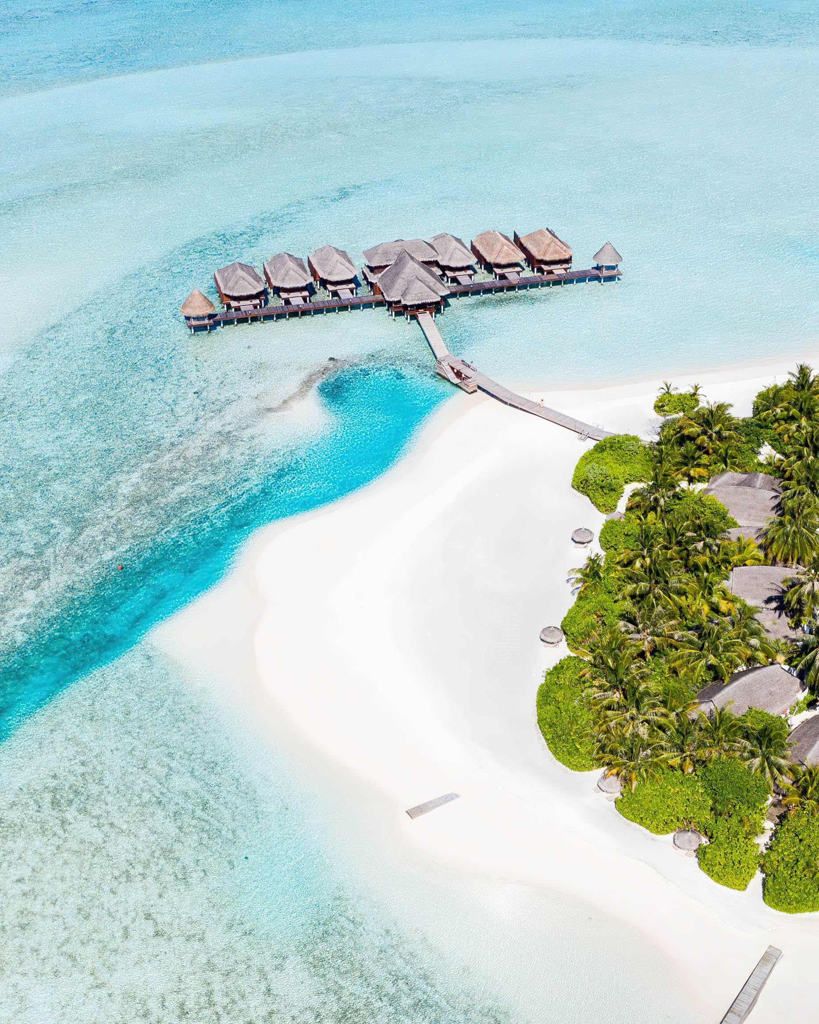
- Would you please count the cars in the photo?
none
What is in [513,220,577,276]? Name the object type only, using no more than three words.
house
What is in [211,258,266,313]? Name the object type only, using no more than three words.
house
